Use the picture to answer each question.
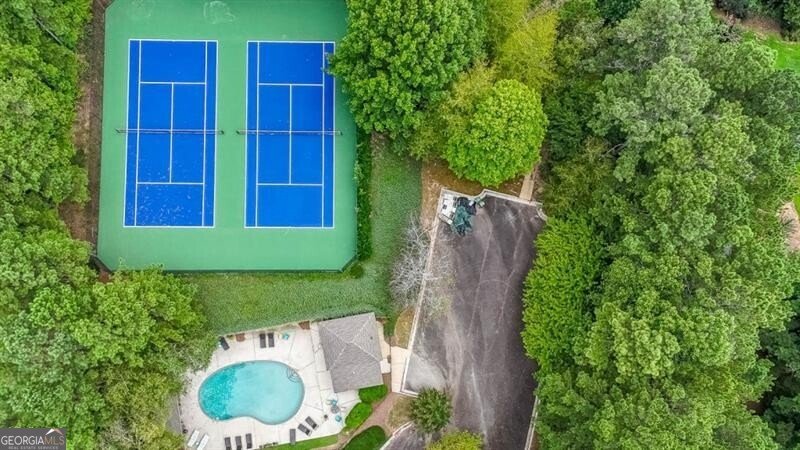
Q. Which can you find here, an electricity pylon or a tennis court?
tennis court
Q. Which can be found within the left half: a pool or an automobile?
pool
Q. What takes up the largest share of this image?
trees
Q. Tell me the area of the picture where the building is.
bottom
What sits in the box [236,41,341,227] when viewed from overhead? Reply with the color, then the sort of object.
blue tennis court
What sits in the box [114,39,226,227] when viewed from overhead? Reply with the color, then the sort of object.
blue tennis court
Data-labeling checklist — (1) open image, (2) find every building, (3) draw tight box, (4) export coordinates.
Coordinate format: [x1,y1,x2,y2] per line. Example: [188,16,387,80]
[318,312,384,392]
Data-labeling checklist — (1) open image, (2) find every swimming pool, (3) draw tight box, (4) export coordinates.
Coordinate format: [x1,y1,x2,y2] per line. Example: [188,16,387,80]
[196,359,306,427]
